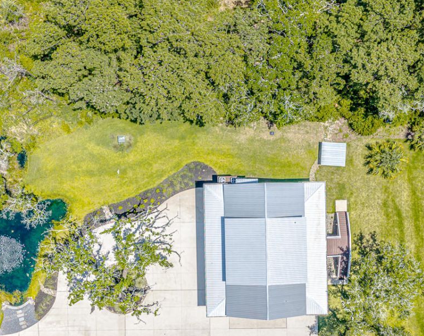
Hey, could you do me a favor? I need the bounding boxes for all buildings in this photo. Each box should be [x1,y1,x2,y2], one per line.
[203,179,329,320]
[321,143,346,166]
